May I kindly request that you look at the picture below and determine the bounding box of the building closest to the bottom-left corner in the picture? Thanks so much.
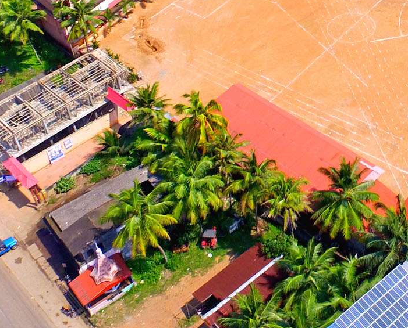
[73,245,135,315]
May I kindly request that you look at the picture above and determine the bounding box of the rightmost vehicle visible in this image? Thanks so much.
[199,228,217,253]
